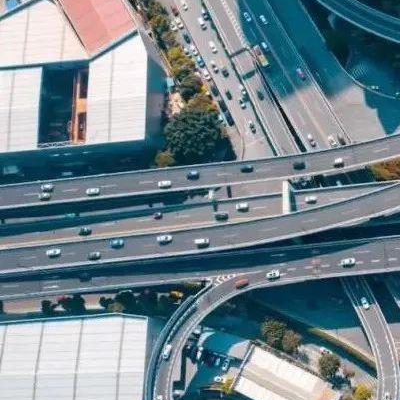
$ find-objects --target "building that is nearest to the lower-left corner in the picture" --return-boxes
[0,314,163,400]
